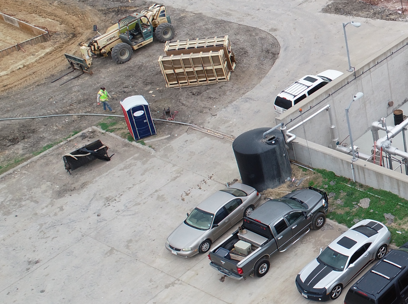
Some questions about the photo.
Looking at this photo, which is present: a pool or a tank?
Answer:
tank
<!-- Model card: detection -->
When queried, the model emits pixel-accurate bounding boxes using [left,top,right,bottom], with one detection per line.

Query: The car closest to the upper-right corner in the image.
[270,72,341,116]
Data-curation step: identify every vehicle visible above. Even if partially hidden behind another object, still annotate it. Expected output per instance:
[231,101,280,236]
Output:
[346,242,408,304]
[270,72,341,116]
[206,183,332,283]
[157,181,264,264]
[62,1,172,82]
[288,216,398,304]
